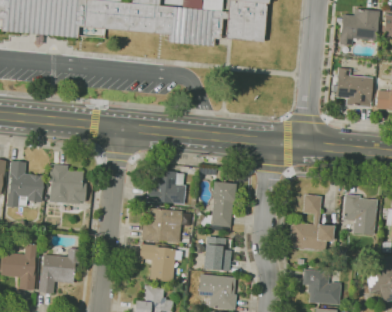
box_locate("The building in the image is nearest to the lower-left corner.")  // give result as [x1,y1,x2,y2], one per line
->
[1,246,37,292]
